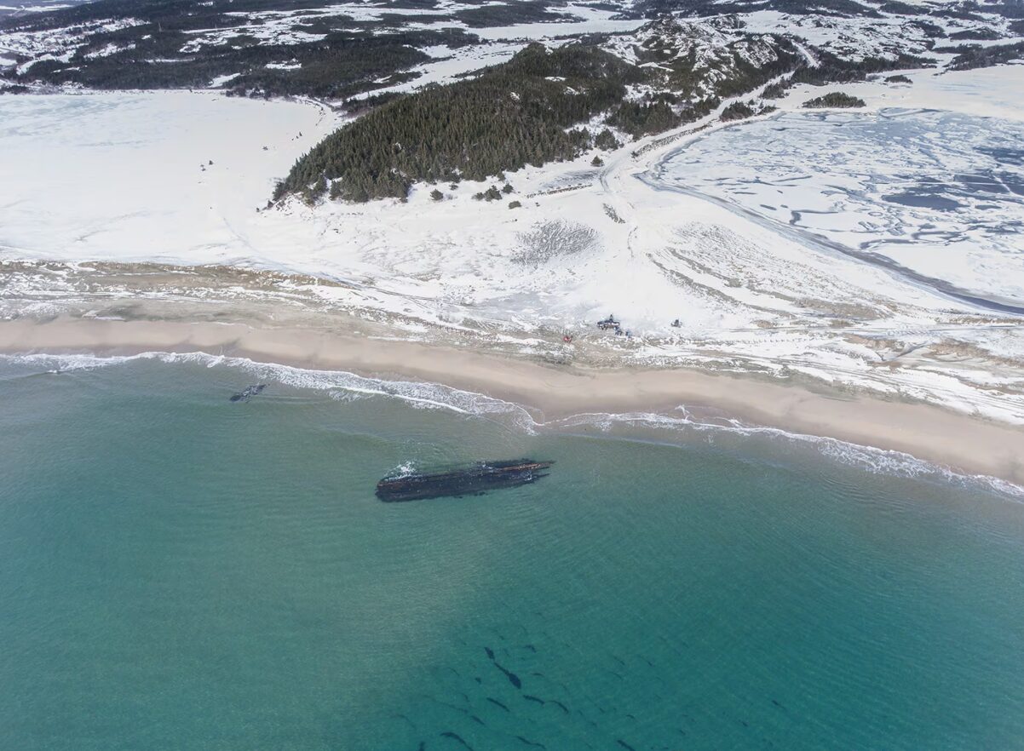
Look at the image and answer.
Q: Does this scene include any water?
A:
Yes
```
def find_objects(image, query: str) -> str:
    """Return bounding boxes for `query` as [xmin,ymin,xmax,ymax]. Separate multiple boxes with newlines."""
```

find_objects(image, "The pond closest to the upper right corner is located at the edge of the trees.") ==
[639,66,1024,316]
